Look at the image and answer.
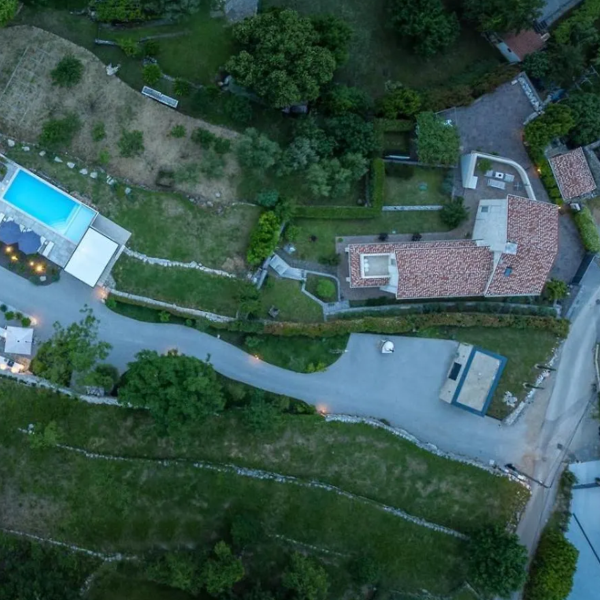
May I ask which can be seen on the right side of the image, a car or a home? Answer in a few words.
home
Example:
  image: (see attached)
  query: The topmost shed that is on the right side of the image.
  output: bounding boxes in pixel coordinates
[489,12,551,62]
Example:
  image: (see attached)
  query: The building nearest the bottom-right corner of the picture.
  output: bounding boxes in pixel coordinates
[428,341,507,417]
